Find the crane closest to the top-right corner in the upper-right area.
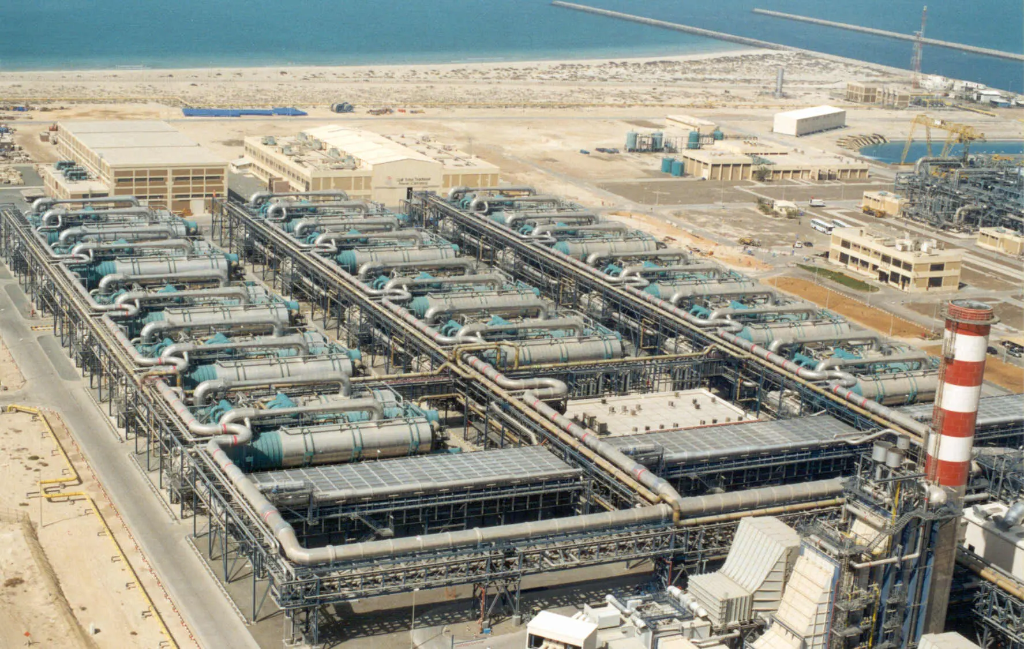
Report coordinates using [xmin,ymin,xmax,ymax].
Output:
[901,111,988,163]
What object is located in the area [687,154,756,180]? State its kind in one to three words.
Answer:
building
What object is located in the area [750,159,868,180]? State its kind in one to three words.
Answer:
building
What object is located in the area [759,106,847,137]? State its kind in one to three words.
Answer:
shed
